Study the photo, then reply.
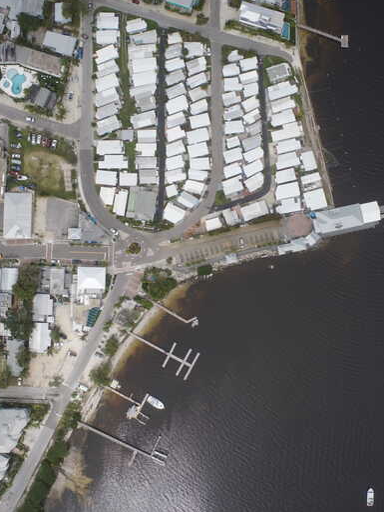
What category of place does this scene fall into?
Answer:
residential area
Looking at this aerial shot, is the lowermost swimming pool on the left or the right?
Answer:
left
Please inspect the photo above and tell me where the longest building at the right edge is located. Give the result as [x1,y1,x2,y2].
[313,200,381,237]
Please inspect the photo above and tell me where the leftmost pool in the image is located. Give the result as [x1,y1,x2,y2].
[0,65,42,98]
